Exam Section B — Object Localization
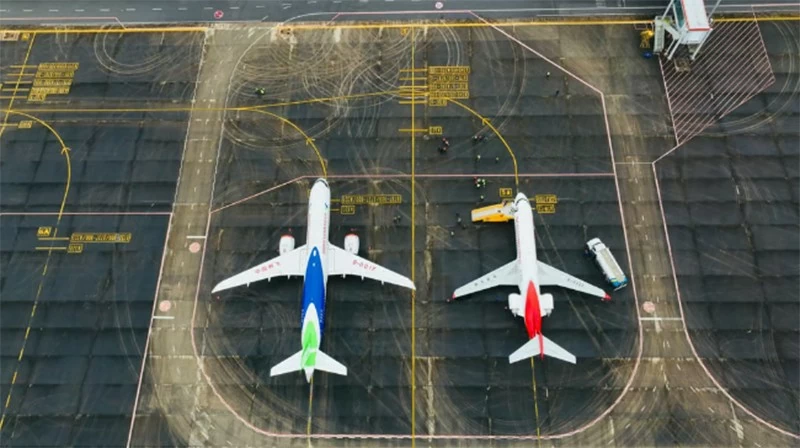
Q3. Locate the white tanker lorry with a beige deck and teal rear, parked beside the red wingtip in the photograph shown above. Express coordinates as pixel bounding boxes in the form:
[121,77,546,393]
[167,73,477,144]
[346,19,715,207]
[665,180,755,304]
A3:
[584,235,627,290]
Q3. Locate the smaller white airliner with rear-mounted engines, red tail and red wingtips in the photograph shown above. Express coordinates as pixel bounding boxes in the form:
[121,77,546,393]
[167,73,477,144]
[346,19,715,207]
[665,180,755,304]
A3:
[452,193,613,364]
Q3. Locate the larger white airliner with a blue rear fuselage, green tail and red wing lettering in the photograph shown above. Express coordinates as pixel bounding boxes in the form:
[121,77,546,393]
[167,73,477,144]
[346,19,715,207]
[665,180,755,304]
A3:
[211,179,416,385]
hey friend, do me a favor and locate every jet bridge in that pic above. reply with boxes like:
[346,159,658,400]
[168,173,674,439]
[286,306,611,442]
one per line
[648,0,723,59]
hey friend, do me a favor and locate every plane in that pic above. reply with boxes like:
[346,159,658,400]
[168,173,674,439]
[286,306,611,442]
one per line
[211,179,416,385]
[452,193,613,364]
